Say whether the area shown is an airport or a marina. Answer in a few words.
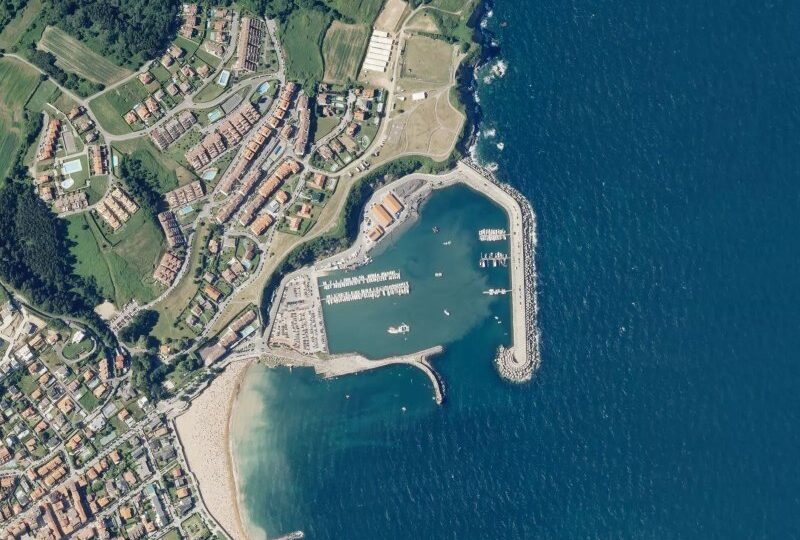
marina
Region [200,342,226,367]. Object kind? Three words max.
building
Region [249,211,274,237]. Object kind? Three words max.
building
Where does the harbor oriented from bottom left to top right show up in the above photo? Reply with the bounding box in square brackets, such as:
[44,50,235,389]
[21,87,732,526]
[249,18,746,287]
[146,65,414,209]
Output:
[255,161,460,367]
